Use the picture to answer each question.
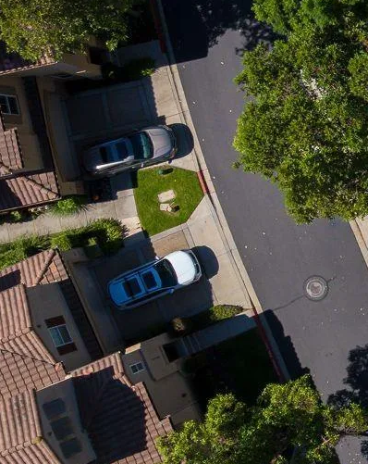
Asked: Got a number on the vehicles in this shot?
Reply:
2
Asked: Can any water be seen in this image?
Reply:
No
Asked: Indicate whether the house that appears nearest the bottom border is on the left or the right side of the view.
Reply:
left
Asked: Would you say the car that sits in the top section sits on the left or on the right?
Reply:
left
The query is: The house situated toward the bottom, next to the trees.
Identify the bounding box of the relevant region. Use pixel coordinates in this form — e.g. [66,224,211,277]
[0,249,218,464]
